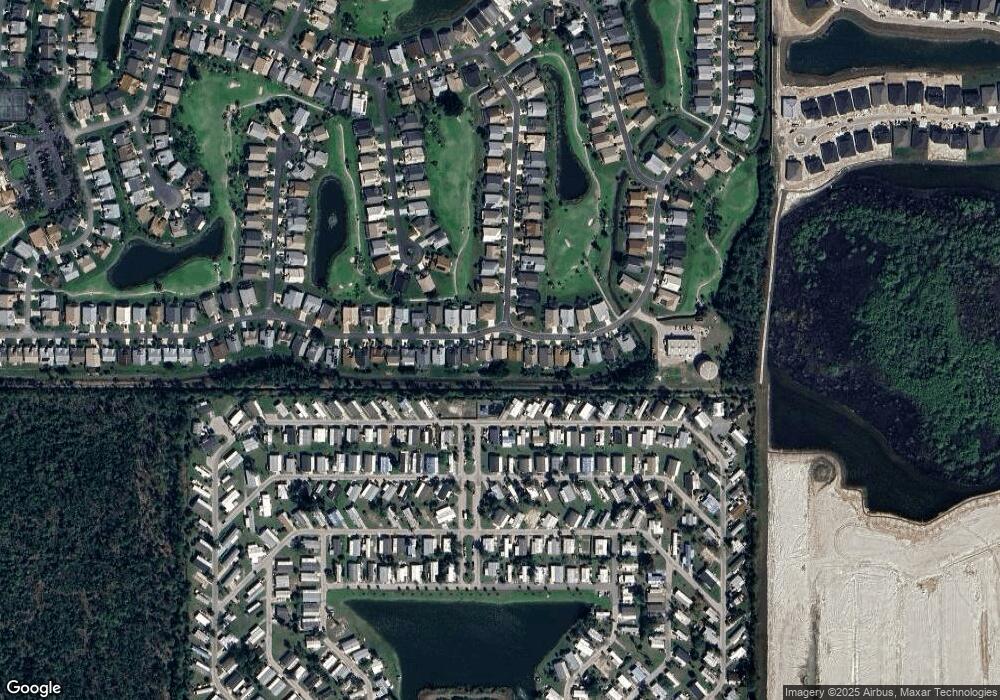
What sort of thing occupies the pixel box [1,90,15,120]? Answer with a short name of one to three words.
tennis court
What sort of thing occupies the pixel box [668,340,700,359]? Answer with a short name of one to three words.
building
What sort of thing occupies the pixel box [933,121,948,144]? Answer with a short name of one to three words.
house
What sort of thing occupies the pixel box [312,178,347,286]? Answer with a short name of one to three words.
pond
